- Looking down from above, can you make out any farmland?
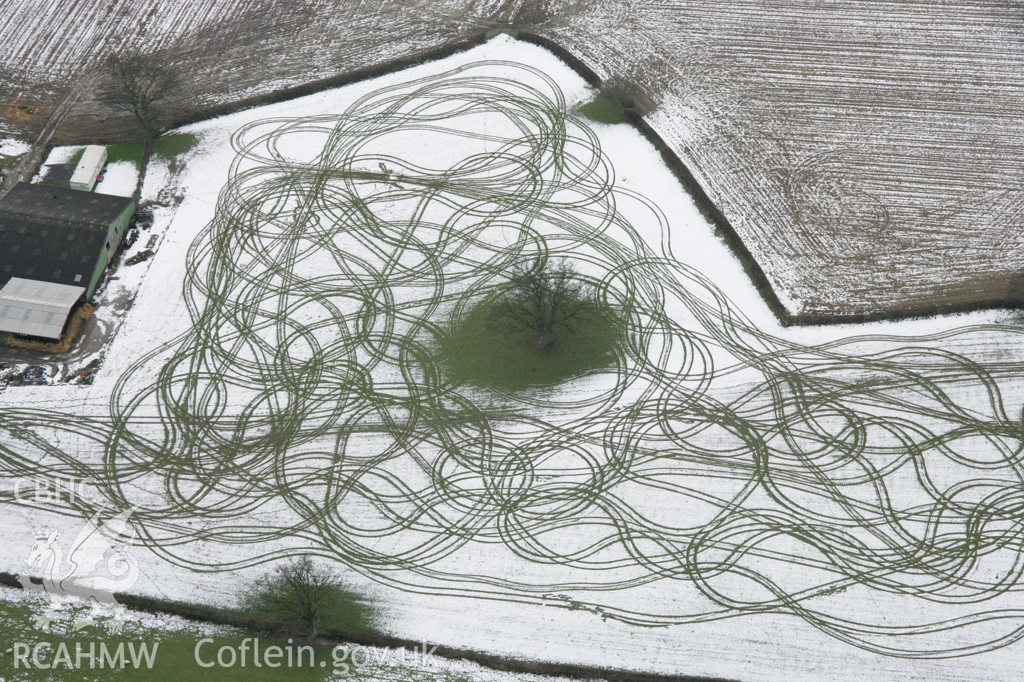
Yes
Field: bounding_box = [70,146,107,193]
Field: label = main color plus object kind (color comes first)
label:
white camper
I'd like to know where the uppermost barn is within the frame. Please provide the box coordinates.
[0,187,136,299]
